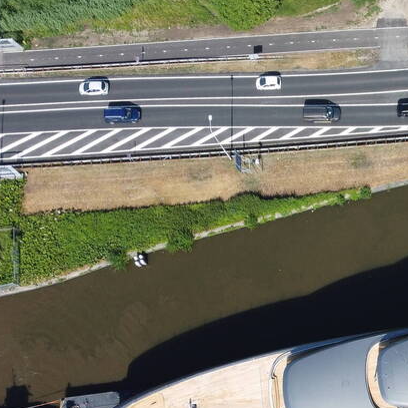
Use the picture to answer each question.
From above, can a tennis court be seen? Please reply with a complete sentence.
No, the picture doesn't show any tennis court.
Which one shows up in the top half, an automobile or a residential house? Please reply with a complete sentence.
Visible in the top half is an automobile.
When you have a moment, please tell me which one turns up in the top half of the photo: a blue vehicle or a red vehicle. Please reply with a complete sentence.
There is a blue vehicle in the top half of the photo.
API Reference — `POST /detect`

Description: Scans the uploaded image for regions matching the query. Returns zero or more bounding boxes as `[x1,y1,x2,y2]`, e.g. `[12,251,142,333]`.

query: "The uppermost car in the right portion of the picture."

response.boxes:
[256,73,283,90]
